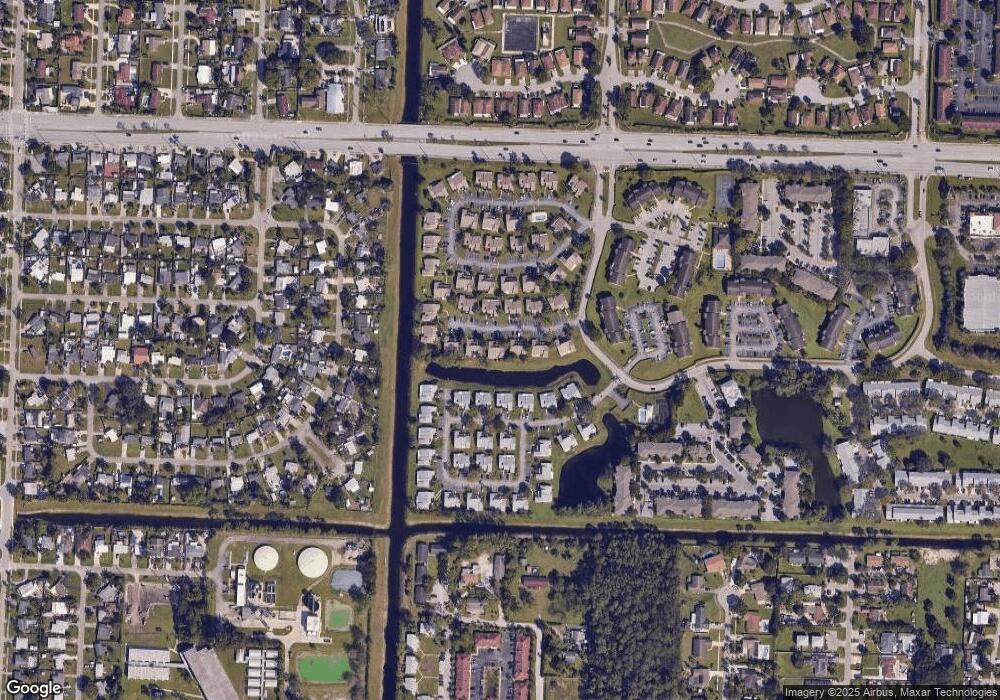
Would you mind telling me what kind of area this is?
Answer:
residential area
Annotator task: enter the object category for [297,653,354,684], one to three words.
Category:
pond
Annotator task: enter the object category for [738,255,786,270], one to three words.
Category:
building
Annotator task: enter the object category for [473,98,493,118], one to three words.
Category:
house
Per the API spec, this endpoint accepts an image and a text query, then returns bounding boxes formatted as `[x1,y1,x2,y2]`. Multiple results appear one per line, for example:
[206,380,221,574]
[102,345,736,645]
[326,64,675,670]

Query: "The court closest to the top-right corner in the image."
[716,175,733,210]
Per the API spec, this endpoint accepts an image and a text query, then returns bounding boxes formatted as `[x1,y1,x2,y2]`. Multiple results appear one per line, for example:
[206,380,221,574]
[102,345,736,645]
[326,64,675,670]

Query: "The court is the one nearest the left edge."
[503,14,538,53]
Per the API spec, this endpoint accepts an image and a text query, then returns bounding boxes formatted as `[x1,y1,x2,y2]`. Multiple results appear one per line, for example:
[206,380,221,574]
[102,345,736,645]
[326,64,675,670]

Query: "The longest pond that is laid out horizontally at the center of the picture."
[427,359,601,387]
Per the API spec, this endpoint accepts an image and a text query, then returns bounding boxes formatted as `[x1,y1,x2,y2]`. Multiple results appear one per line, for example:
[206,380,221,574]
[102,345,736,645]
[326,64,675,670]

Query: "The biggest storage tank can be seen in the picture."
[297,547,328,579]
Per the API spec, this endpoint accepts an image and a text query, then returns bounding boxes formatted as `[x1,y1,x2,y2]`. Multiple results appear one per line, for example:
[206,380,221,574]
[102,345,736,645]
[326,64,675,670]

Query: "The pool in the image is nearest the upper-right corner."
[712,250,729,272]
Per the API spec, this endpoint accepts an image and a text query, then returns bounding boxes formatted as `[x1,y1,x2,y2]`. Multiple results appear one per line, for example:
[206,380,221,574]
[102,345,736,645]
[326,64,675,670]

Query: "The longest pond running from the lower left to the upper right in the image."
[553,413,636,509]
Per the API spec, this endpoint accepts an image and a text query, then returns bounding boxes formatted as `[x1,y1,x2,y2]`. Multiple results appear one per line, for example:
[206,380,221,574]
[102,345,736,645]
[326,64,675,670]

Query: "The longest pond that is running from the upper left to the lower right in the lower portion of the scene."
[752,389,843,514]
